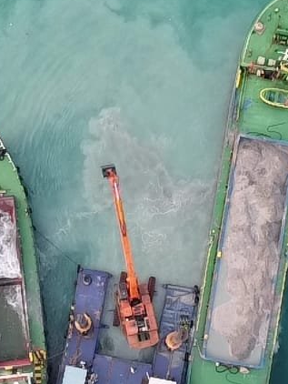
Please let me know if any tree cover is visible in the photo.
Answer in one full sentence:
No, the scene doesn't show any tree cover.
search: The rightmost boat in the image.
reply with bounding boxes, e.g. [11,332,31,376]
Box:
[259,86,288,109]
